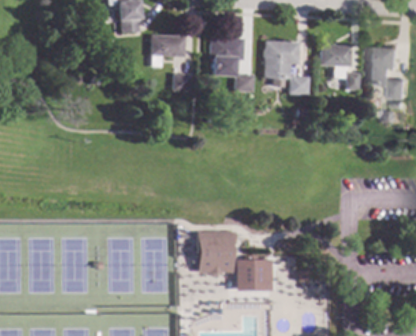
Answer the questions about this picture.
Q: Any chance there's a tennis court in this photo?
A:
Yes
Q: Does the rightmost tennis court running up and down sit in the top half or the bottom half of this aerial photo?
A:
bottom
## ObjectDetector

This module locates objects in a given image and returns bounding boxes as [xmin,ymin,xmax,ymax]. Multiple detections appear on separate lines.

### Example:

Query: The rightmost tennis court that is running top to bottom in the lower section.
[141,238,168,294]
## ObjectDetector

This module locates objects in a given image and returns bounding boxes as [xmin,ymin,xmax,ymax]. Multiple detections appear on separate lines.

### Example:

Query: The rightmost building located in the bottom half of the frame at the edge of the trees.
[237,260,272,291]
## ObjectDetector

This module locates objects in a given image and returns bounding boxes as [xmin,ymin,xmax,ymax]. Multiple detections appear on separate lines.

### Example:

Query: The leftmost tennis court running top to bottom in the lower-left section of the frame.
[0,238,22,294]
